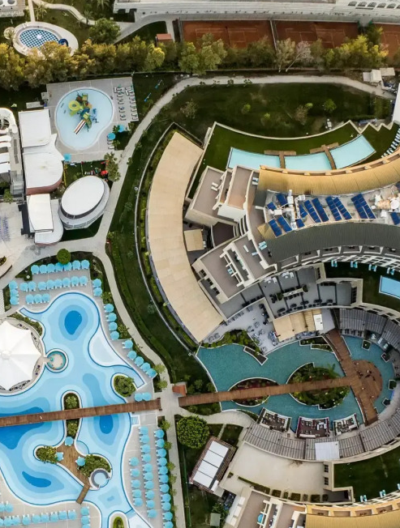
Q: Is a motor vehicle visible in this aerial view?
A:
No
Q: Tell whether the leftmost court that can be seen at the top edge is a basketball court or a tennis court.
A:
tennis court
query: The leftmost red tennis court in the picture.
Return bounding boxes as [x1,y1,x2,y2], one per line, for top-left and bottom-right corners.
[181,14,279,62]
